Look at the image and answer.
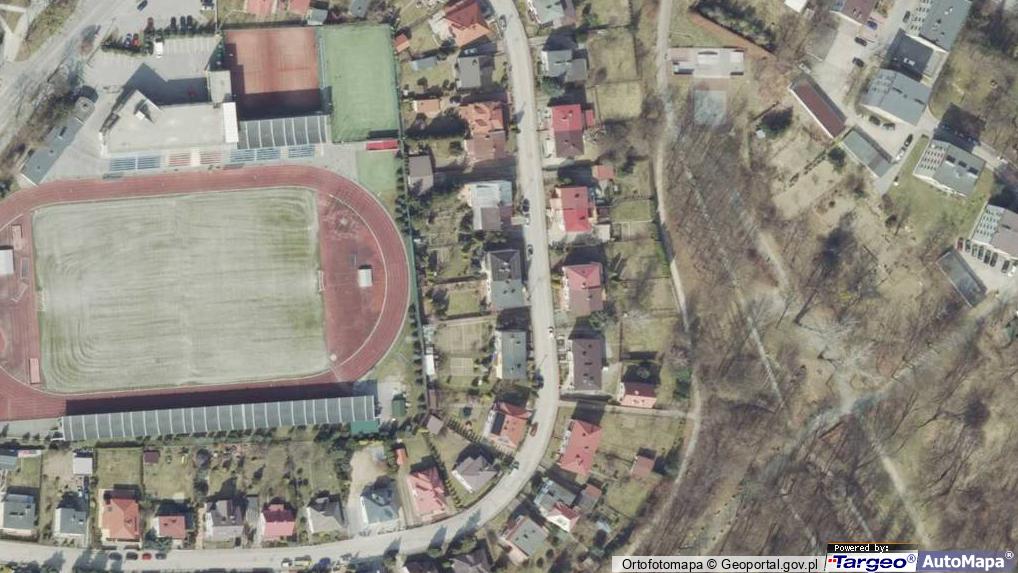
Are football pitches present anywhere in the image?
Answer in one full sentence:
Yes, a football pitch appears in the view.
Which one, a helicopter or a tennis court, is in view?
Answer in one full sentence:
There is a tennis court in the scene.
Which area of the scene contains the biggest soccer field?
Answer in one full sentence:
You can find the biggest soccer field in the left area of the picture.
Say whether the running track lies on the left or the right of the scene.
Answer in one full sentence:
The running track appears in the left half of the scene.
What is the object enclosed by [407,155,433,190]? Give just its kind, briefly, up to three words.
house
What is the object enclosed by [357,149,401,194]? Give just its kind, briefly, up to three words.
sports field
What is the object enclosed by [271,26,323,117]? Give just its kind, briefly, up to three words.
tennis court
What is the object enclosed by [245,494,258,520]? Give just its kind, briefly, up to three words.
building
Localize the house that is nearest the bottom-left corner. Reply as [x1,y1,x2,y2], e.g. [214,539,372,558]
[0,491,37,529]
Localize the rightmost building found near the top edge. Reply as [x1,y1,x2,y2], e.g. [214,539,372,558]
[905,0,972,53]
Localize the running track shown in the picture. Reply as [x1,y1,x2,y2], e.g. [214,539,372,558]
[0,166,412,424]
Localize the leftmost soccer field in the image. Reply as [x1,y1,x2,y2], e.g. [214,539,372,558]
[33,188,329,391]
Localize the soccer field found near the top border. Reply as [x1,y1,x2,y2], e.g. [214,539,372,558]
[318,24,399,141]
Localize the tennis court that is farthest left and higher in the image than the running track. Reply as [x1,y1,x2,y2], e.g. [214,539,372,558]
[225,27,277,120]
